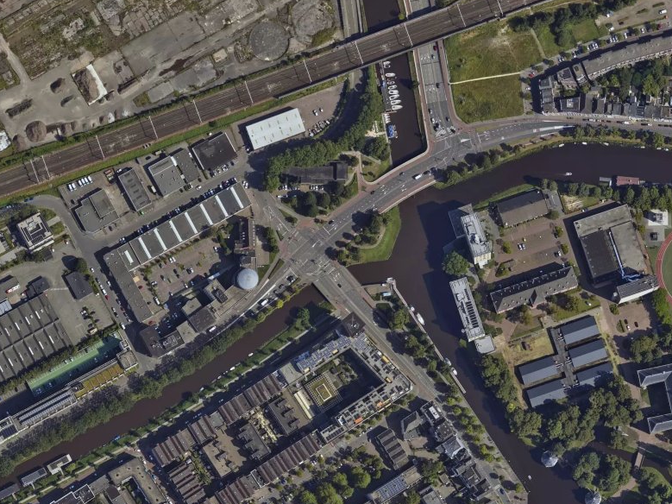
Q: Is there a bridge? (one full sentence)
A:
Yes, a bridge appears in the view.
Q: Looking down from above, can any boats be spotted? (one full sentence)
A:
Yes, the photo shows a boat.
